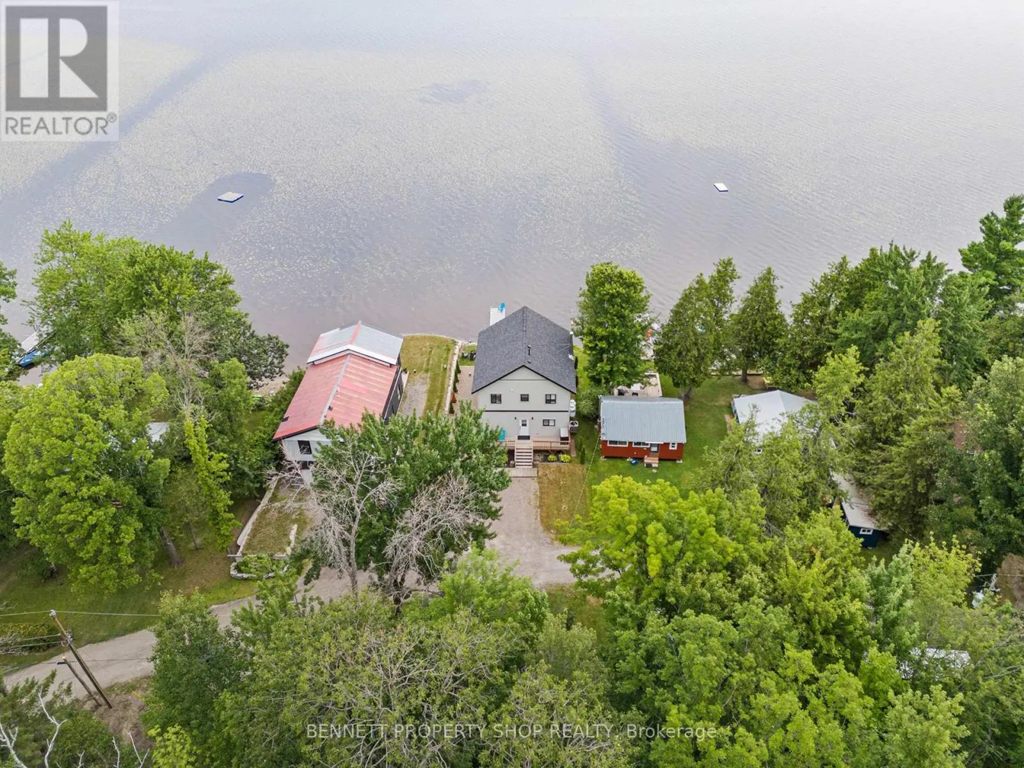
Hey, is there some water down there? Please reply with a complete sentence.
Yes, water shows up in the scene.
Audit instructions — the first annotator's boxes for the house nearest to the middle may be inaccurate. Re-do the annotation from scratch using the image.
[471,306,578,472]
